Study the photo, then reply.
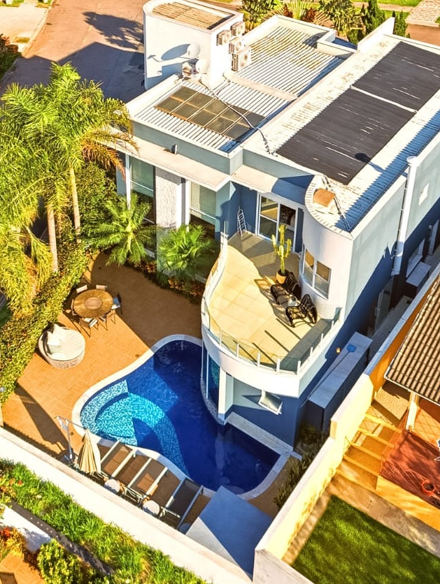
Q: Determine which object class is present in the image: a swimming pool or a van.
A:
swimming pool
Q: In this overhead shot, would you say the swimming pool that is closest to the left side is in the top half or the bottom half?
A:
bottom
